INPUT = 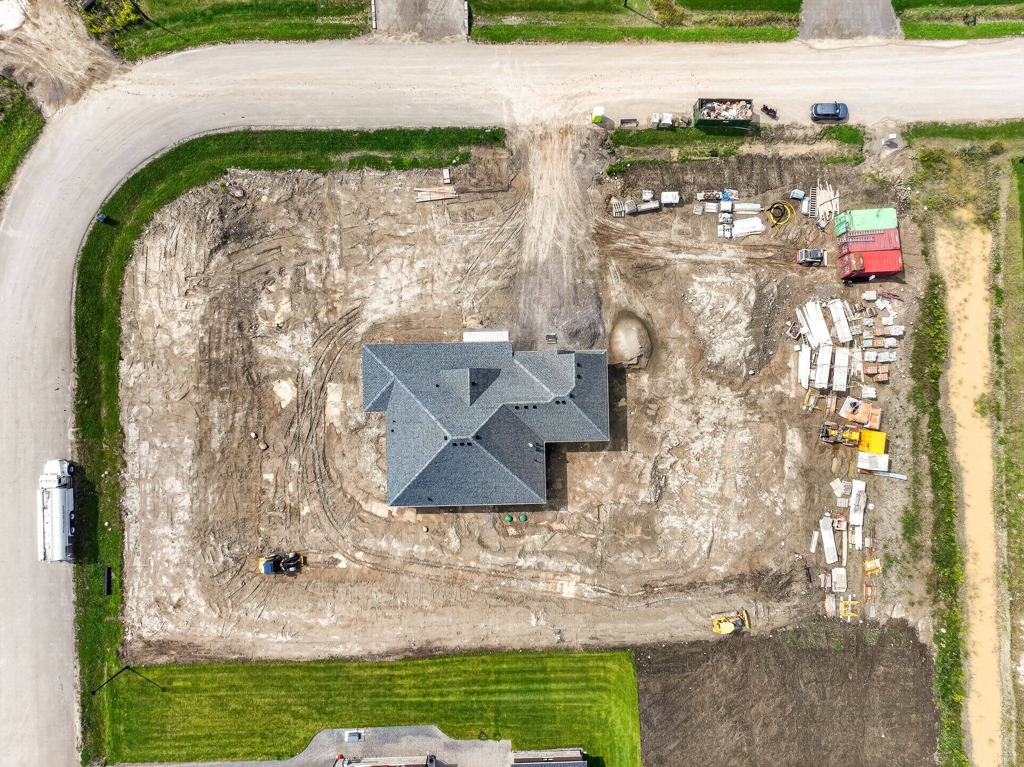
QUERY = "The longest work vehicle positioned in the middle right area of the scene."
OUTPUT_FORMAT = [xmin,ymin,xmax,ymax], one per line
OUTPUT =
[808,422,863,447]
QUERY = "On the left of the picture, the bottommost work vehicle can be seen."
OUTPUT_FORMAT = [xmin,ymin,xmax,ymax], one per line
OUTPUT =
[257,551,303,575]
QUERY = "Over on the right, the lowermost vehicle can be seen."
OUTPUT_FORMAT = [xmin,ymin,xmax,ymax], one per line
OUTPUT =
[713,606,749,636]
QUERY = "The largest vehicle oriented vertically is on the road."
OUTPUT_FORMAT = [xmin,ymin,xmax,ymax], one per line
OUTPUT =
[38,458,73,562]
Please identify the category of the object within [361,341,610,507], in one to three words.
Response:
house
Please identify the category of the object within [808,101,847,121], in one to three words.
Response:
car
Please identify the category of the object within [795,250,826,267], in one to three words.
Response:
work vehicle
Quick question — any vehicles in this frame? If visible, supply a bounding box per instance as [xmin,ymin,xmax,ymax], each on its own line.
[808,422,863,447]
[713,606,749,636]
[760,105,778,119]
[257,551,303,575]
[808,101,847,121]
[795,250,826,267]
[38,458,73,562]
